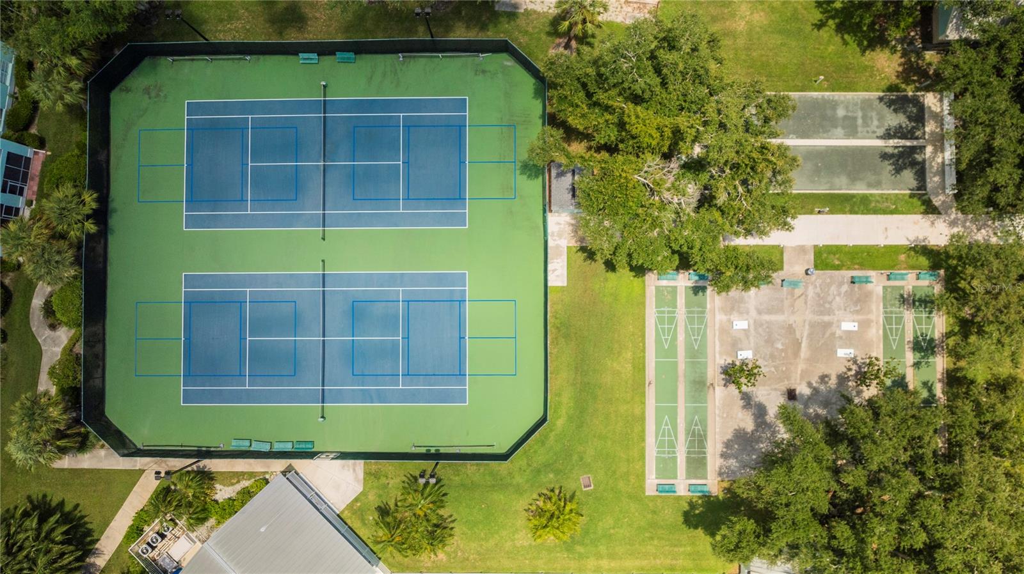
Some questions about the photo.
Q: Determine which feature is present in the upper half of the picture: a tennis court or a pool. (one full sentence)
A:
It is a tennis court that can be seen in the upper half of the picture.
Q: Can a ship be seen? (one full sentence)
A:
No, no ship can be seen from above.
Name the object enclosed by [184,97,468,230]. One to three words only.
tennis court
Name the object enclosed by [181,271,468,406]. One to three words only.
tennis court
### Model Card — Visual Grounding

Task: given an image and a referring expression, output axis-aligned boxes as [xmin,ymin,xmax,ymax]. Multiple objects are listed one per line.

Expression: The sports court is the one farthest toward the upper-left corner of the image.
[138,127,298,202]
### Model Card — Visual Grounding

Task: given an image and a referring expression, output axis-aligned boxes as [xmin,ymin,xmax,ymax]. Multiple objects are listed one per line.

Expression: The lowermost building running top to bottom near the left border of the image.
[0,138,34,220]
